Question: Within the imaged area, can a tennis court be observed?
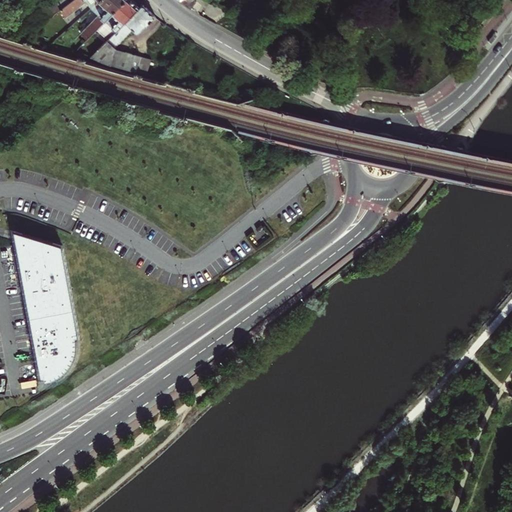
No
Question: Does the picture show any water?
Yes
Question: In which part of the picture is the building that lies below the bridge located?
left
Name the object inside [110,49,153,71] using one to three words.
building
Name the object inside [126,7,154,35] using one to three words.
building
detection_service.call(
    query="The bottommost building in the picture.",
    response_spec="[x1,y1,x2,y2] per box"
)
[8,232,76,385]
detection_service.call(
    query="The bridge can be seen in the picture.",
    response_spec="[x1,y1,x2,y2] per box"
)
[0,38,512,194]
